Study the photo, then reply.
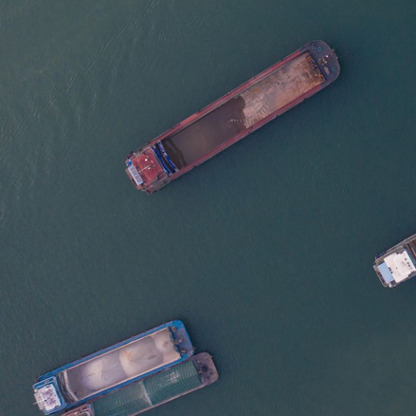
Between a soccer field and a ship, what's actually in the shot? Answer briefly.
ship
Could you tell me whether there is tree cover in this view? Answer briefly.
No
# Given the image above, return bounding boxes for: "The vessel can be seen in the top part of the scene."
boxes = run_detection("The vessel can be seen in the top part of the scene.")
[126,41,340,194]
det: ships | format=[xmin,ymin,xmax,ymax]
[31,319,198,416]
[58,351,220,416]
[126,41,340,194]
[373,236,416,288]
